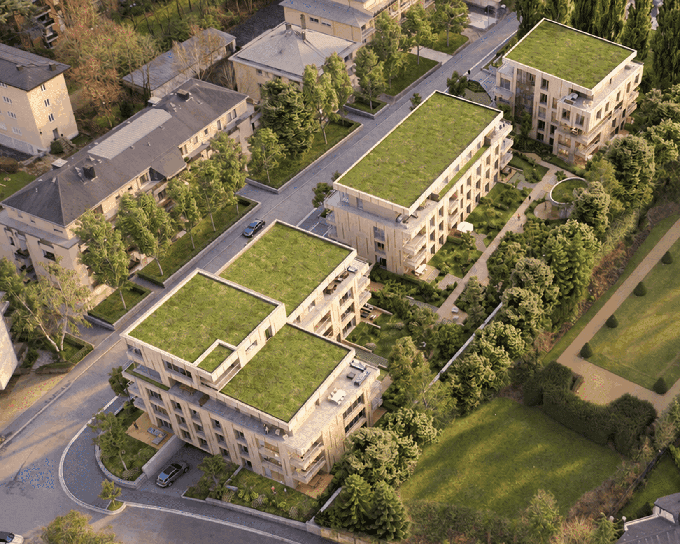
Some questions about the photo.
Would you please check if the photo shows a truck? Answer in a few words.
No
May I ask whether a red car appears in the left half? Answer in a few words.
No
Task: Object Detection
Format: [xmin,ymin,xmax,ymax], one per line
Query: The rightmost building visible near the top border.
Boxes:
[491,19,645,172]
